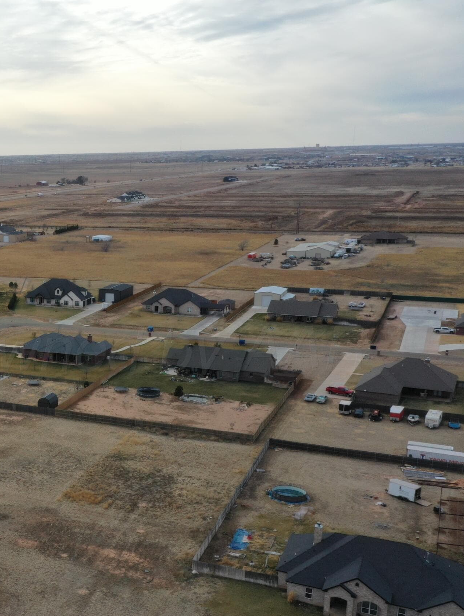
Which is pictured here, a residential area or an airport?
residential area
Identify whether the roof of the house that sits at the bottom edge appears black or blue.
black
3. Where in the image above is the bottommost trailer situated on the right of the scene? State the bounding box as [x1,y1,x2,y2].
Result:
[381,472,434,503]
